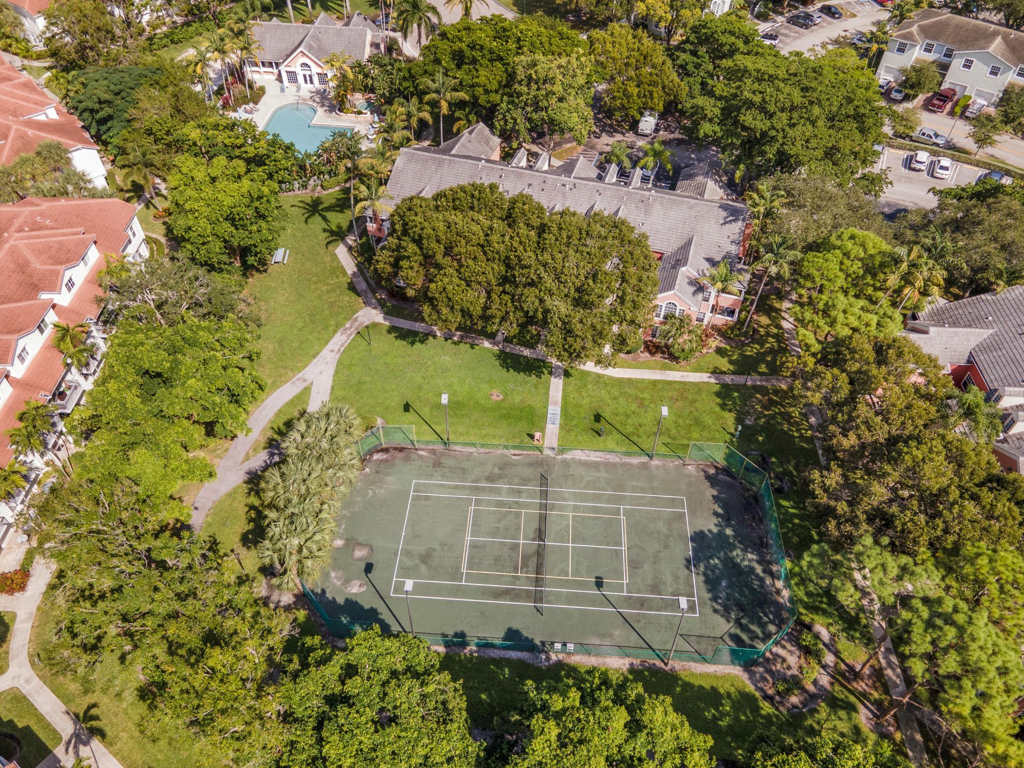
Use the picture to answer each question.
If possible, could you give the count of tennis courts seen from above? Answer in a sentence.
Altogether the scene contains 1 tennis court.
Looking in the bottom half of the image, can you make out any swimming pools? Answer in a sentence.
No, I see no swimming pool in the bottom half of the image.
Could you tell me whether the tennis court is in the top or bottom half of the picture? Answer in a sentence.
It is in the bottom half that the tennis court appears.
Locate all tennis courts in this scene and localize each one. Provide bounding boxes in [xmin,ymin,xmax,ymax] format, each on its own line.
[306,445,786,668]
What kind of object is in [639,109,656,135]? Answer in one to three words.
vehicle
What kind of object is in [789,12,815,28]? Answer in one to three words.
car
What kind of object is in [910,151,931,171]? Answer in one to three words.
car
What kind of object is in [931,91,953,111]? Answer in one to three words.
vehicle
